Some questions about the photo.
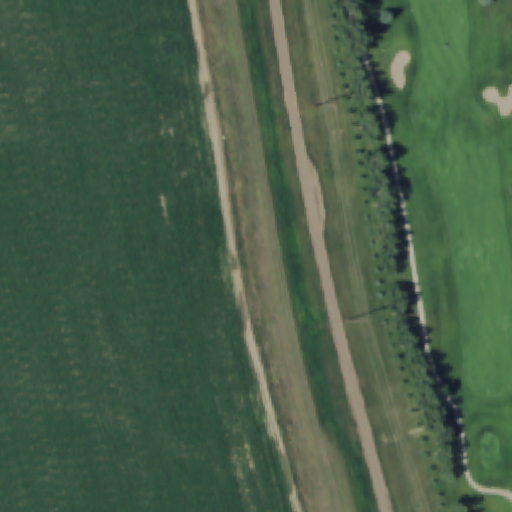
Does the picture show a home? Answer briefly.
No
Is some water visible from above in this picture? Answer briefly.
No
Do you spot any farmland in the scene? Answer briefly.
Yes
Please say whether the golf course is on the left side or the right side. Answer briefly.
right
